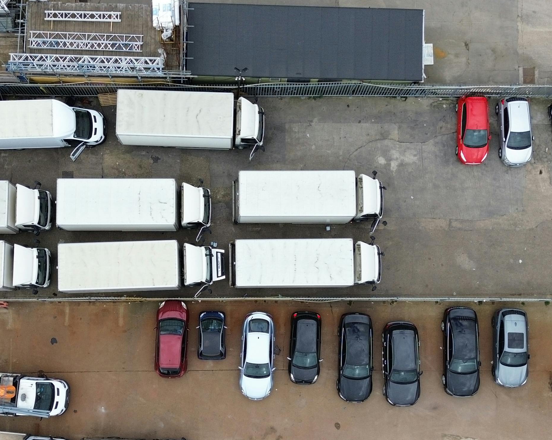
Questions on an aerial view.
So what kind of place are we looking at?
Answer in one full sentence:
It's a parking lot.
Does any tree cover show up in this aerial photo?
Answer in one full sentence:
No, the scene doesn't show any tree cover.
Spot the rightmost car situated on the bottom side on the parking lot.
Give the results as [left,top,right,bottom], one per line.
[490,310,533,386]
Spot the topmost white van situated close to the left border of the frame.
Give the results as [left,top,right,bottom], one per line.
[0,99,107,162]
